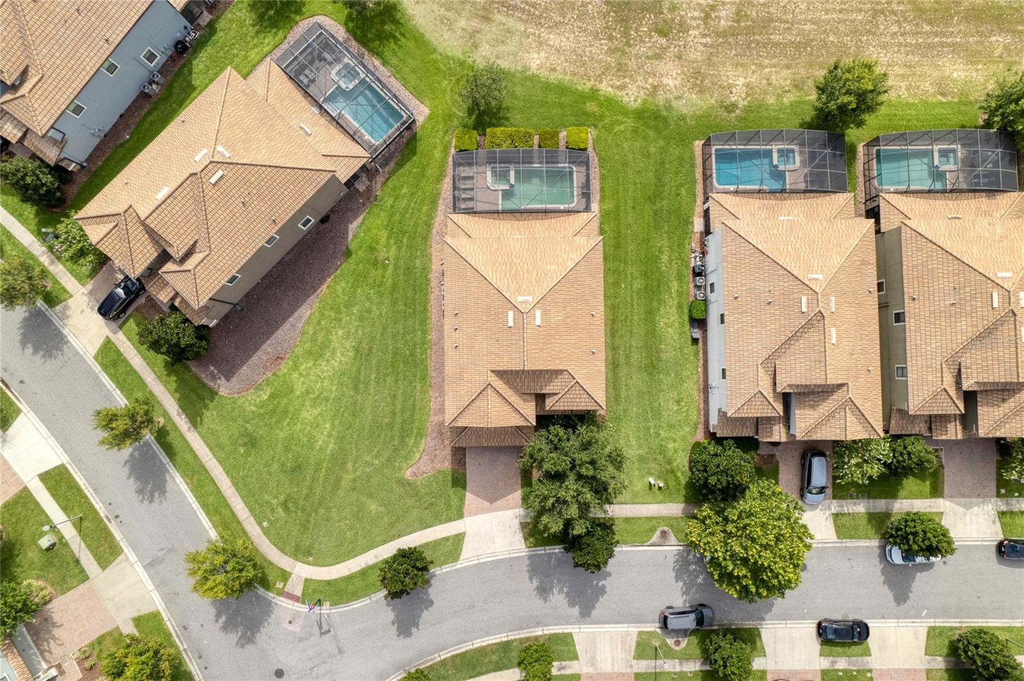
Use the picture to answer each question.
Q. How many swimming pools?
4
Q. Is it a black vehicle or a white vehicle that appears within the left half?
black vehicle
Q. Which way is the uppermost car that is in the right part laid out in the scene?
from top to bottom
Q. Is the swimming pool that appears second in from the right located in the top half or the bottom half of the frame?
top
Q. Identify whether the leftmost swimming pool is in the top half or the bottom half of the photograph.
top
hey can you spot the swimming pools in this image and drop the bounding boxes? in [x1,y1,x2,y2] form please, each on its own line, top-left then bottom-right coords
[319,57,404,143]
[713,144,800,192]
[490,160,577,213]
[878,142,959,190]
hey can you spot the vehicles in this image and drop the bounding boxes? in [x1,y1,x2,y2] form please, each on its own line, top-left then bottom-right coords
[818,619,873,647]
[1002,538,1024,561]
[660,606,716,635]
[801,449,831,505]
[92,275,145,323]
[887,542,944,567]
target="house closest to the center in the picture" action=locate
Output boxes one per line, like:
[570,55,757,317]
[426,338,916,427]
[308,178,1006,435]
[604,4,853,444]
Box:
[443,212,605,447]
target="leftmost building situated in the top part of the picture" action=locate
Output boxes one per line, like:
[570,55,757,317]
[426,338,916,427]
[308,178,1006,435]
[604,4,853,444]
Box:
[0,0,209,166]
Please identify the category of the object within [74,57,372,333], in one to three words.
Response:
house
